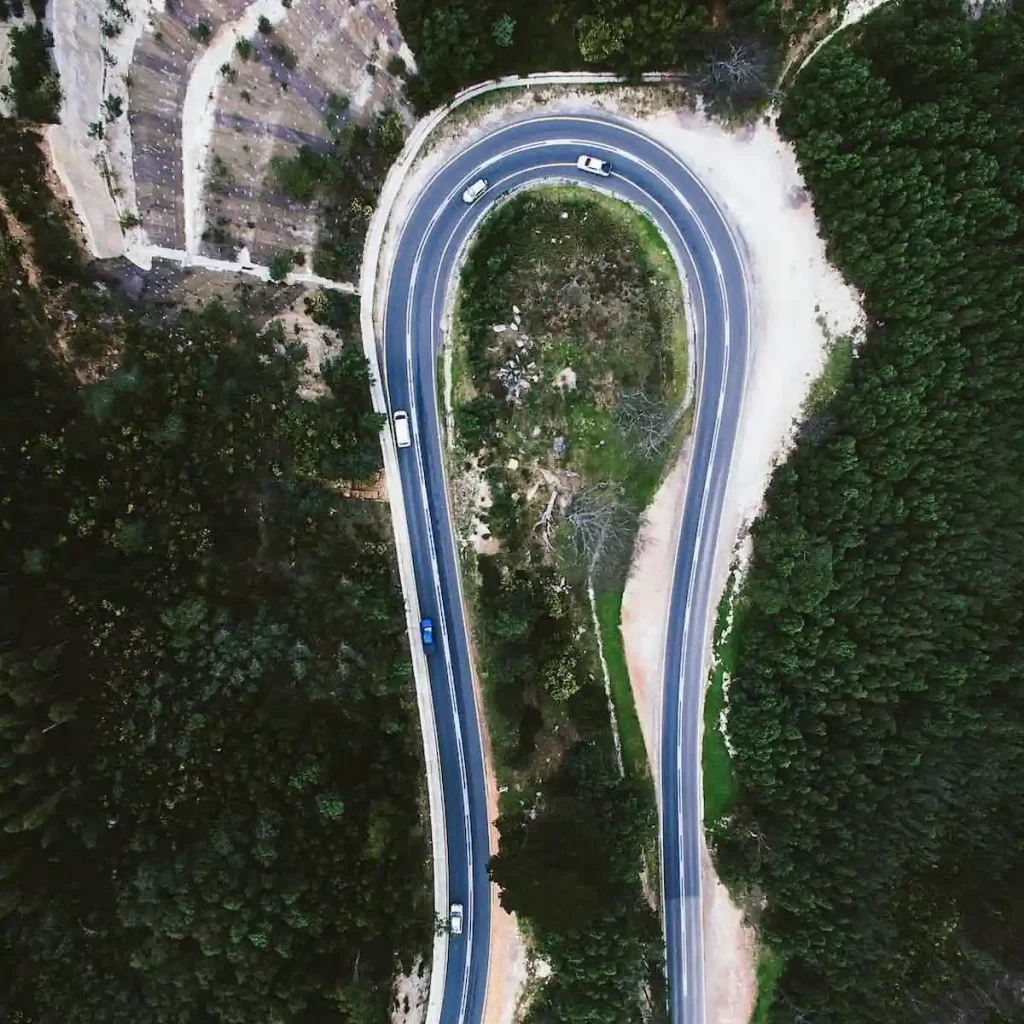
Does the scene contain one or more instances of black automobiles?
No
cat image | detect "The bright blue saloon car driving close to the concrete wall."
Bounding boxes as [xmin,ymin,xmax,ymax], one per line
[420,619,436,652]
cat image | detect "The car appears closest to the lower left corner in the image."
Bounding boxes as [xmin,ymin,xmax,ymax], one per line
[449,902,464,935]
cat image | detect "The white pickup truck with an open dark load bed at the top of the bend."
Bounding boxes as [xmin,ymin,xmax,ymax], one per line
[575,154,613,175]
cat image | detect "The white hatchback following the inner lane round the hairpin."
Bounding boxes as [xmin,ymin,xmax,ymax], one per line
[462,177,489,203]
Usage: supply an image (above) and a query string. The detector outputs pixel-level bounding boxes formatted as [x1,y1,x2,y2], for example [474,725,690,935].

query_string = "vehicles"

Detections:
[575,154,613,175]
[392,410,411,448]
[420,619,436,652]
[462,177,489,203]
[449,902,464,935]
